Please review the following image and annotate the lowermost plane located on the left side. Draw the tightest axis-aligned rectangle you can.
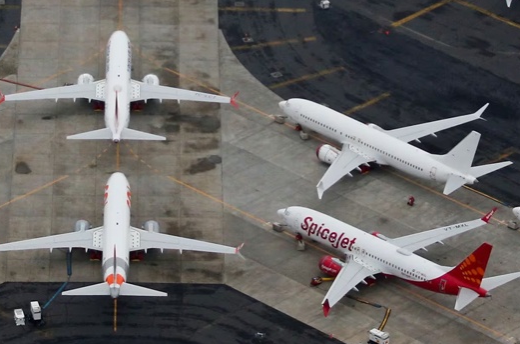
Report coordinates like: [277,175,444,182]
[0,174,245,299]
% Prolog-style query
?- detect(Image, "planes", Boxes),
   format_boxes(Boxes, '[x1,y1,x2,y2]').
[277,207,520,317]
[279,99,513,200]
[0,174,245,299]
[0,32,239,143]
[513,207,520,222]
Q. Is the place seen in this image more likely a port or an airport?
airport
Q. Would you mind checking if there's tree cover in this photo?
No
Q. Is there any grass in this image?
No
